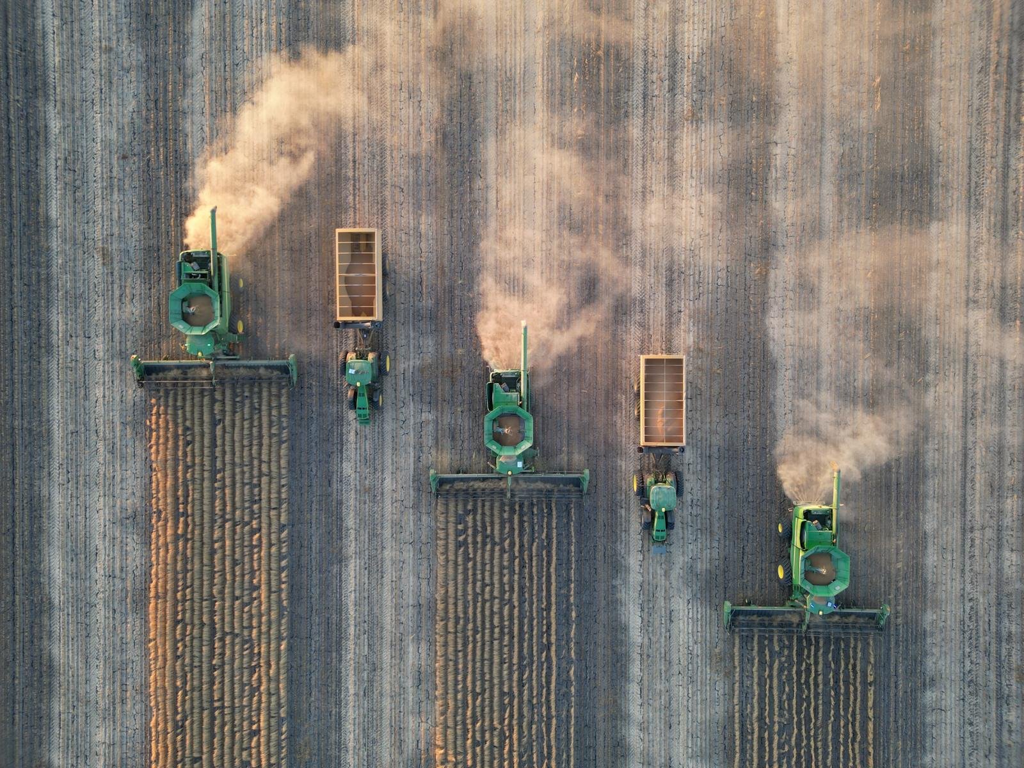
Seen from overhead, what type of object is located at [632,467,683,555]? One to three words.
work vehicle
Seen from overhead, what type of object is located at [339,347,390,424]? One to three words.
work vehicle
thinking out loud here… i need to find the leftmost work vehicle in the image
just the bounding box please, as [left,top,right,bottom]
[131,200,295,392]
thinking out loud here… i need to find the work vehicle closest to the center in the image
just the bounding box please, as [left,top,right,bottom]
[430,321,589,507]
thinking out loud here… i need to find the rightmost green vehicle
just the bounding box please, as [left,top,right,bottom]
[726,458,889,635]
